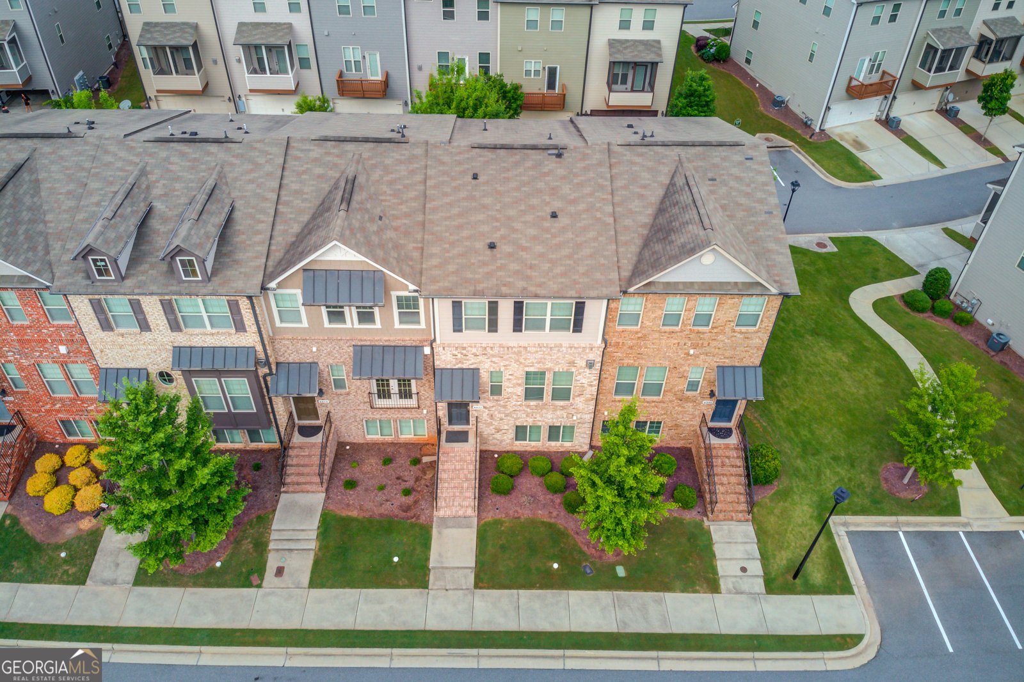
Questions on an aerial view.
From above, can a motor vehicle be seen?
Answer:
No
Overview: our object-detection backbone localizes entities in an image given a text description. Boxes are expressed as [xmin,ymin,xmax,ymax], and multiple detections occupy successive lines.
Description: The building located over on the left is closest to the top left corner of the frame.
[0,0,126,99]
